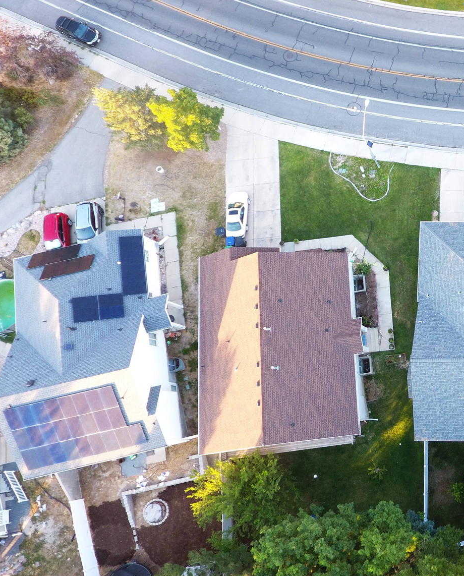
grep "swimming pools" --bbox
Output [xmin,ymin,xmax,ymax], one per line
[0,279,16,335]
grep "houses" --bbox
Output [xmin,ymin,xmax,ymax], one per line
[408,220,464,442]
[198,246,383,459]
[0,228,186,481]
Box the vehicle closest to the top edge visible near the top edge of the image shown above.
[51,13,107,48]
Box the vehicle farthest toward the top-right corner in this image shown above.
[225,192,249,241]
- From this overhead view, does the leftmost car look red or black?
red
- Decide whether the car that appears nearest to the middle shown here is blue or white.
white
